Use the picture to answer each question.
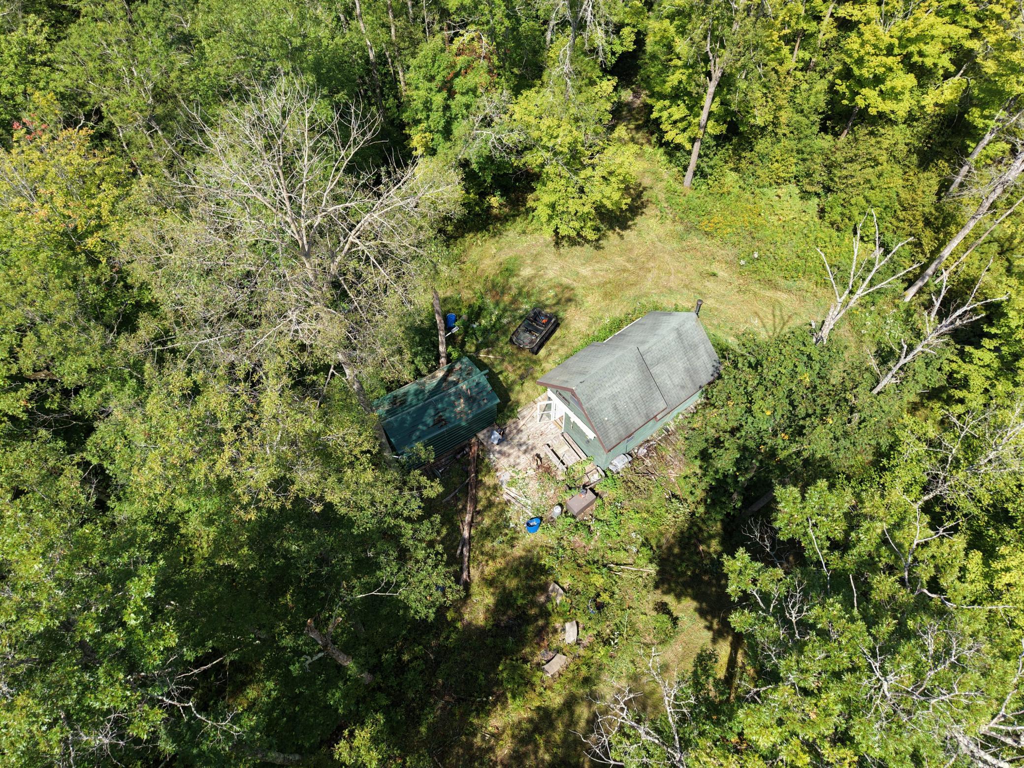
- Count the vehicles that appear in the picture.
1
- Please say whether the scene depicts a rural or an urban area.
rural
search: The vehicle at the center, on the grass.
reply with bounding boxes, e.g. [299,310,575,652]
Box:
[508,309,560,357]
